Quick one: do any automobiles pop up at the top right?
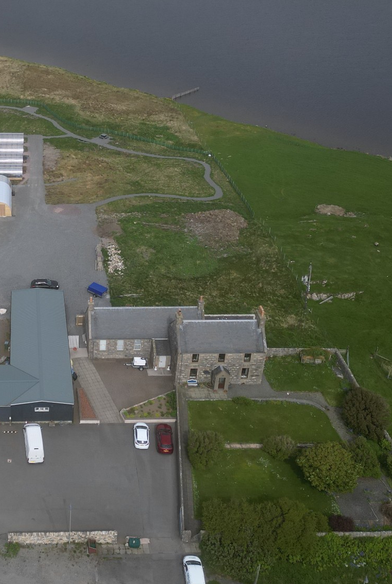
No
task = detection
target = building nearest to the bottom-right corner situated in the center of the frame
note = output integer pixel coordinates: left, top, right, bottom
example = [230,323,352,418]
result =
[172,305,269,394]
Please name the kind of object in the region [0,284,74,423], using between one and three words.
building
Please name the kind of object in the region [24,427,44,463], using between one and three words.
vehicle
